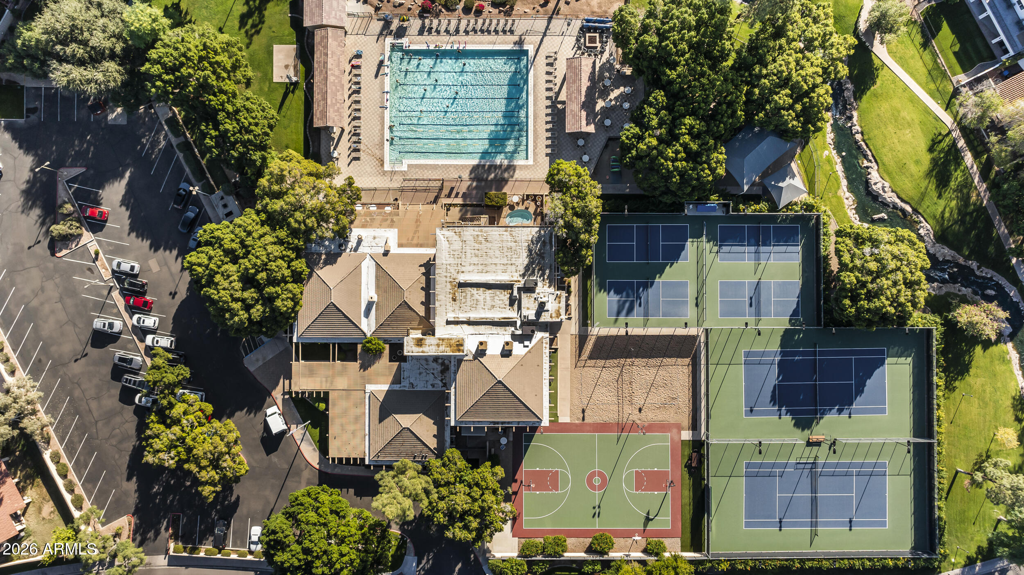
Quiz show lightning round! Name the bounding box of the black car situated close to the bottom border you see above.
[212,519,229,550]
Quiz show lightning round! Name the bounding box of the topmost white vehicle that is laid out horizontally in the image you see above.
[112,260,142,275]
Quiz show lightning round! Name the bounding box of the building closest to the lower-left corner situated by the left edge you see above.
[0,453,43,544]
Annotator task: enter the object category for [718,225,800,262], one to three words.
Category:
sports court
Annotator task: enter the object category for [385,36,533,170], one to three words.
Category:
swimming pool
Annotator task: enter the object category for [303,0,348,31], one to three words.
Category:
building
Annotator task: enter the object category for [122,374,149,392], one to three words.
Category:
car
